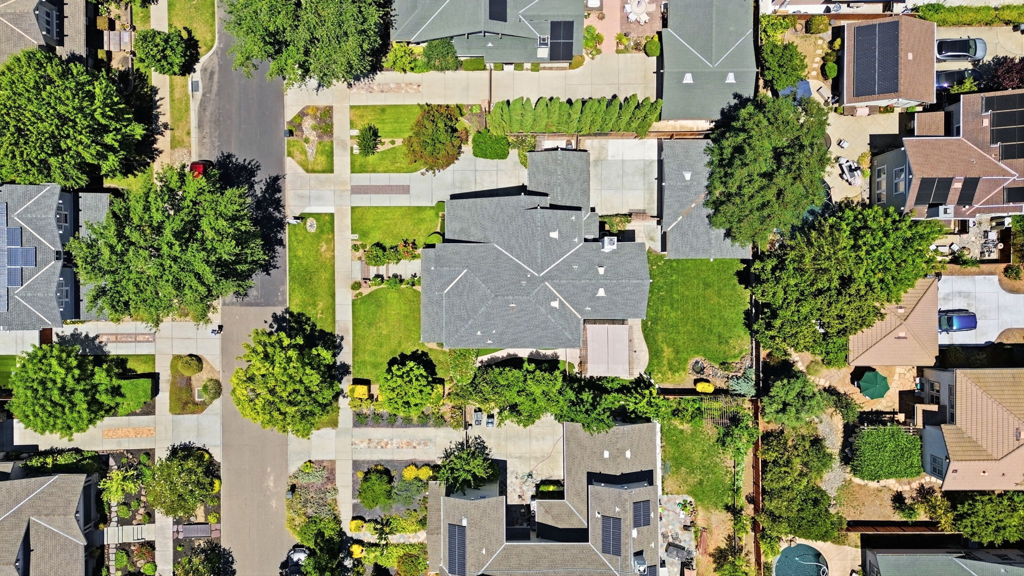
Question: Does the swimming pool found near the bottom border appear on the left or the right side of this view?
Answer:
right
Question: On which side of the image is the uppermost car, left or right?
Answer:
right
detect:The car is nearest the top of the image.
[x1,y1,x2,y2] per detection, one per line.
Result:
[937,38,986,64]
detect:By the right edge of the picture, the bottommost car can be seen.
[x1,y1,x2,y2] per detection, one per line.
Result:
[938,308,983,333]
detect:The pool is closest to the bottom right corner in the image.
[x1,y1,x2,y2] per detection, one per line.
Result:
[773,544,829,576]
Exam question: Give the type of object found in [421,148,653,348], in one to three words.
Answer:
house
